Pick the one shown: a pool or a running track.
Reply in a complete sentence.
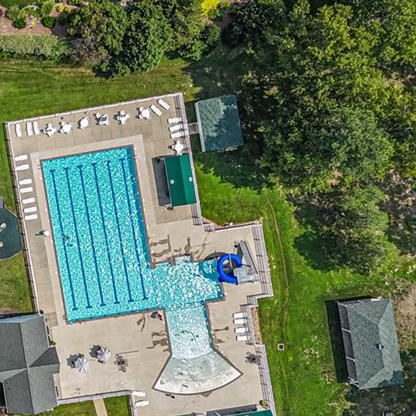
The image shows a pool.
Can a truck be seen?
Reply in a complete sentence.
No, there is no truck in the image.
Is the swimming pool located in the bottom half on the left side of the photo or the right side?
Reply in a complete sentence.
The swimming pool located in the bottom half sits on the left side.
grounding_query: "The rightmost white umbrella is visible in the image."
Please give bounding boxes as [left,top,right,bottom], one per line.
[95,348,112,364]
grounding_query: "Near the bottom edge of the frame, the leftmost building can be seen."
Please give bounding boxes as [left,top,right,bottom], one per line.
[0,314,60,416]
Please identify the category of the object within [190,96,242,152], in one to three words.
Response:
shed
